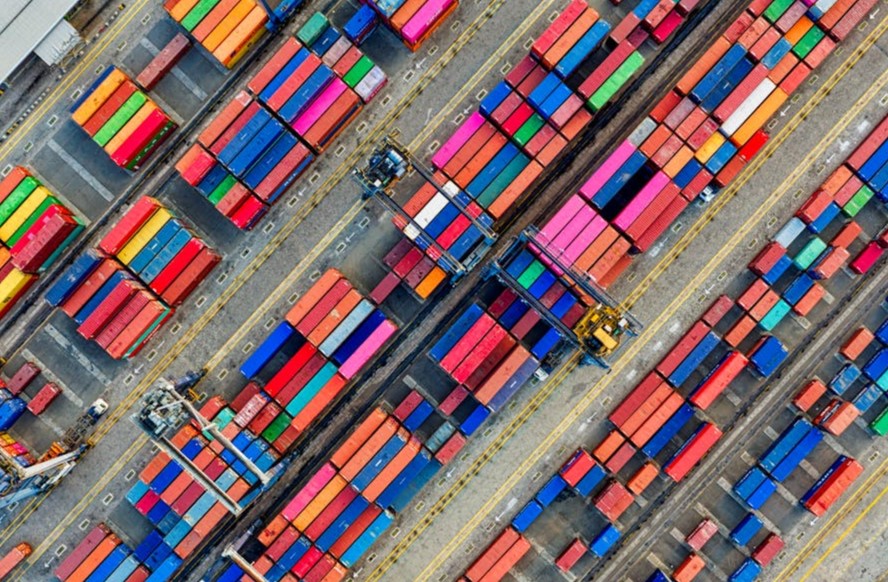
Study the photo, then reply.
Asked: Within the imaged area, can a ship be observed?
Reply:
No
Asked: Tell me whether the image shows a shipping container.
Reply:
Yes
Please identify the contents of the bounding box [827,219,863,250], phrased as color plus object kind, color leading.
red shipping container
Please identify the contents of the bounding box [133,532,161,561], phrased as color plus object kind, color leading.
blue shipping container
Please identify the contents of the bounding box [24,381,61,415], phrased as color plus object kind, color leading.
red shipping container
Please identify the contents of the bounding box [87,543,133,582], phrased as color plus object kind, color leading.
blue shipping container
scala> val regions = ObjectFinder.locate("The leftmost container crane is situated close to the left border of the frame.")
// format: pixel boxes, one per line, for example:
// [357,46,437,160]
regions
[0,439,91,518]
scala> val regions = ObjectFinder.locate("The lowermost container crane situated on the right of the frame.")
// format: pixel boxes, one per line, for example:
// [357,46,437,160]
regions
[481,224,645,374]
